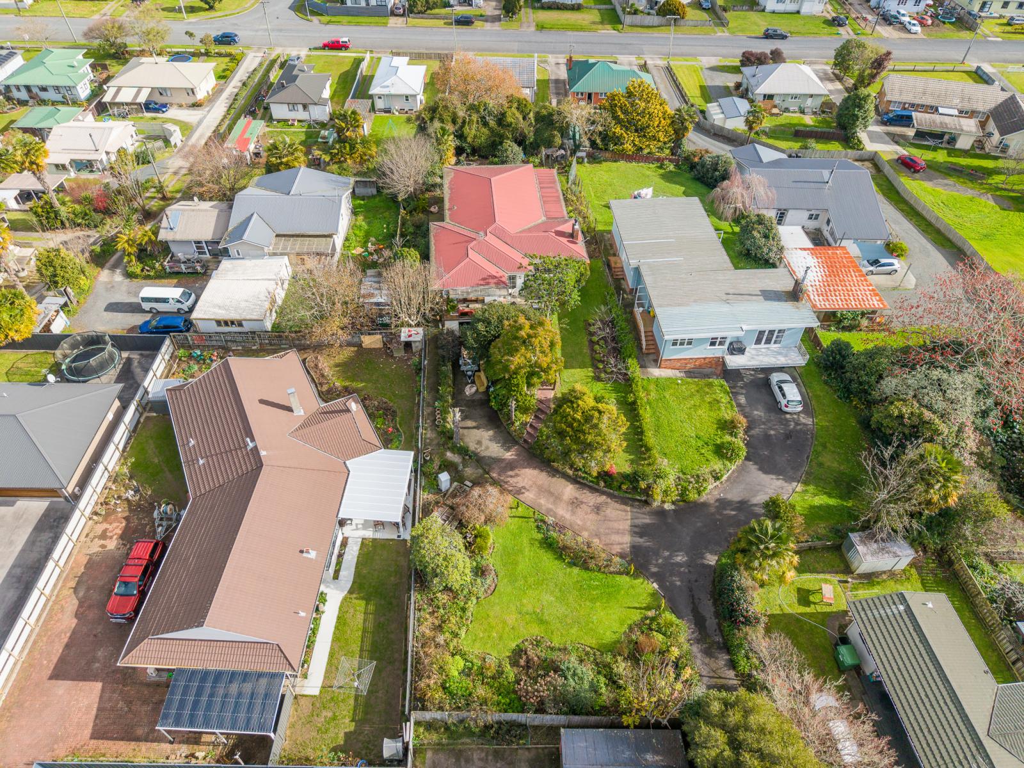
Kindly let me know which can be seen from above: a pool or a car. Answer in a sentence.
The one in the frame is a car.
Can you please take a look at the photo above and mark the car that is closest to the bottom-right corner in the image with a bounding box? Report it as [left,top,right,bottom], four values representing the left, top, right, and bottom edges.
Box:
[765,374,804,413]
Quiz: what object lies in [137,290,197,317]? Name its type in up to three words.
vehicle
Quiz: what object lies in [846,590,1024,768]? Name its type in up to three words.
house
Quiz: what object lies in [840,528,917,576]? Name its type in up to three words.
shed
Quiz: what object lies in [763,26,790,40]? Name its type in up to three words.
car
